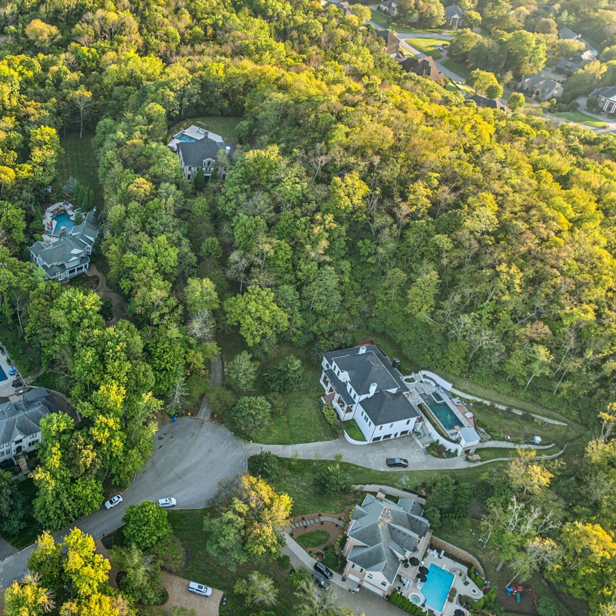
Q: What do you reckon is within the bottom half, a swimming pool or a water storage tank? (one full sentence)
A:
It is a swimming pool that can be seen within the bottom half.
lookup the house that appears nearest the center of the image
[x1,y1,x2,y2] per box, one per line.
[321,344,422,445]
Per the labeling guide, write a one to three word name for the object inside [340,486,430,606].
house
